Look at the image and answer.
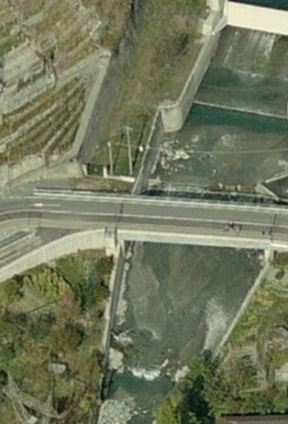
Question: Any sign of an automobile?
No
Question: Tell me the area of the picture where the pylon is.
bottom left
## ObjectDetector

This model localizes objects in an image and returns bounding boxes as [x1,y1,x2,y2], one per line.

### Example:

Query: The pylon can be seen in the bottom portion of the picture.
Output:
[1,375,75,424]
